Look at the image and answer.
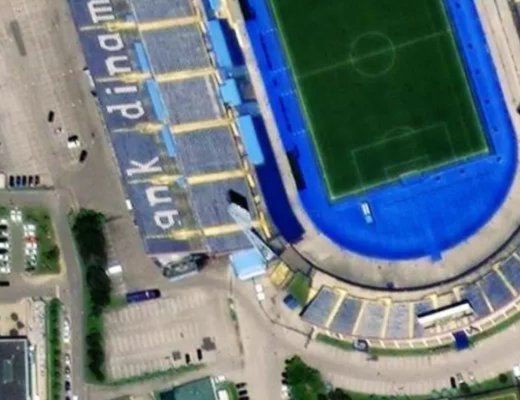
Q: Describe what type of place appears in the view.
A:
sports ground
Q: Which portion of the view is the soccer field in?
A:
top right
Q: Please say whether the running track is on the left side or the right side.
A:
right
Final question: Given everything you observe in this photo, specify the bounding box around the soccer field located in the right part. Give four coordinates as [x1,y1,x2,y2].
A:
[269,0,494,203]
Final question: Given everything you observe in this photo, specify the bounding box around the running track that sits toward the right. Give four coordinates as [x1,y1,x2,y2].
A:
[238,0,519,264]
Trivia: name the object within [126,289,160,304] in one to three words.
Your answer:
vehicle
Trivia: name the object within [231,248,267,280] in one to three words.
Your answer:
building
